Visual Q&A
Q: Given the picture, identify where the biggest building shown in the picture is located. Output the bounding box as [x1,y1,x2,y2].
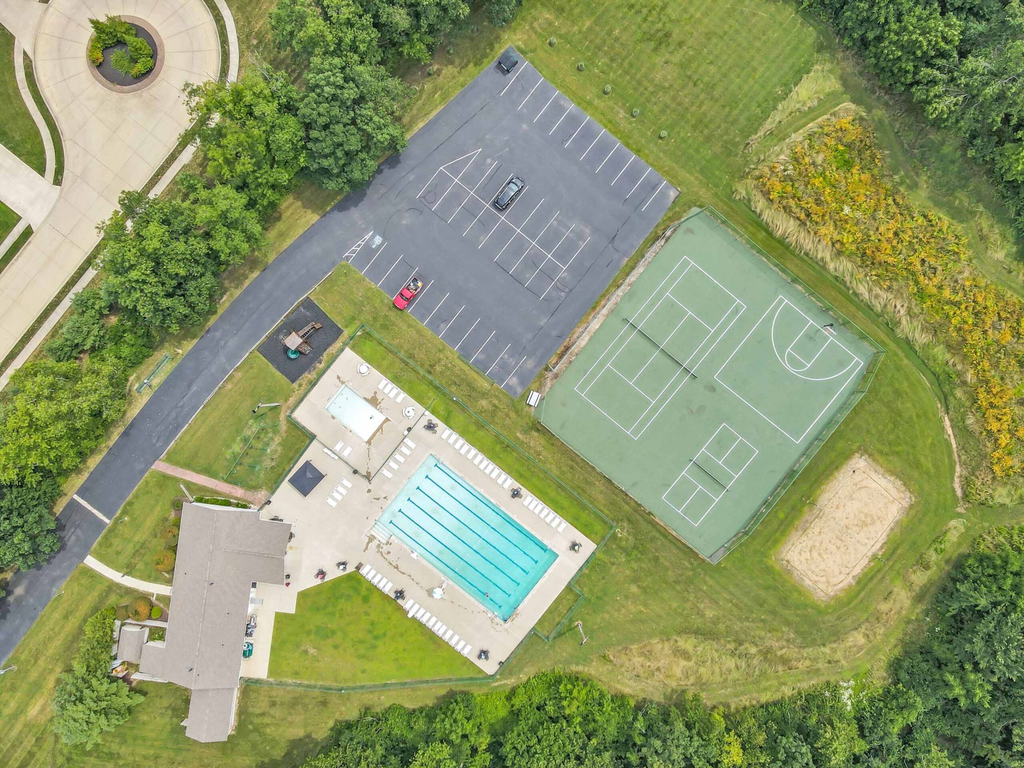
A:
[139,502,295,743]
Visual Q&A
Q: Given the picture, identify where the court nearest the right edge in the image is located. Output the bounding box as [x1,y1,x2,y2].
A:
[777,451,917,605]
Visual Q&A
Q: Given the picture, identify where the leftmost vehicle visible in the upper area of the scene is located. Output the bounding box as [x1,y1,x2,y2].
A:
[394,275,424,312]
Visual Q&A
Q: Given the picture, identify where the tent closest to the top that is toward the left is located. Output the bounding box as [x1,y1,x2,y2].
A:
[288,457,332,497]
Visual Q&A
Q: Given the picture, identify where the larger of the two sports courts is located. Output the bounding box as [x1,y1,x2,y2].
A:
[535,207,875,558]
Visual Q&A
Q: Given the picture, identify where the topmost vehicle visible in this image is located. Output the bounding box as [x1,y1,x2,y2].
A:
[497,46,522,75]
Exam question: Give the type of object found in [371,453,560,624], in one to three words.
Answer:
swimming pool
